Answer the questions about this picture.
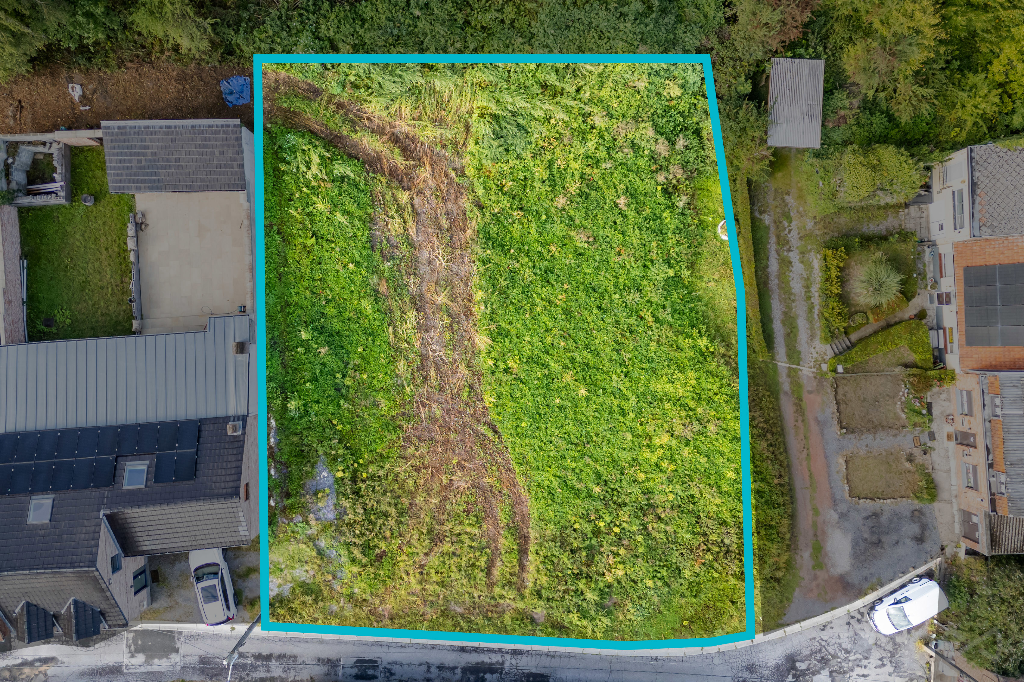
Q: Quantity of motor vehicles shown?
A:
two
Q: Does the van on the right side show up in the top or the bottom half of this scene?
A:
bottom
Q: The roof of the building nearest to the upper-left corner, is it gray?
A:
Yes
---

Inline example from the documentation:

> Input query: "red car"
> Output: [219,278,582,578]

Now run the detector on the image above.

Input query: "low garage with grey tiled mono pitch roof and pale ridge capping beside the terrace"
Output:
[100,118,263,200]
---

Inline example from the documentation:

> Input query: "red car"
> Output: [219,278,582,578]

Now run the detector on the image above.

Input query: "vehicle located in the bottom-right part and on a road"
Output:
[864,574,956,638]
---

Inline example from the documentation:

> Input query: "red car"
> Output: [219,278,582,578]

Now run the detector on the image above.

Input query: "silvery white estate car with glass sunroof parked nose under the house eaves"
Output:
[190,549,242,627]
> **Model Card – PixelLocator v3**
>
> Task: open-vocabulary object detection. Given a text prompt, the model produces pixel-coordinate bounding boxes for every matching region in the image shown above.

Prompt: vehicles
[190,549,242,627]
[864,574,956,638]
